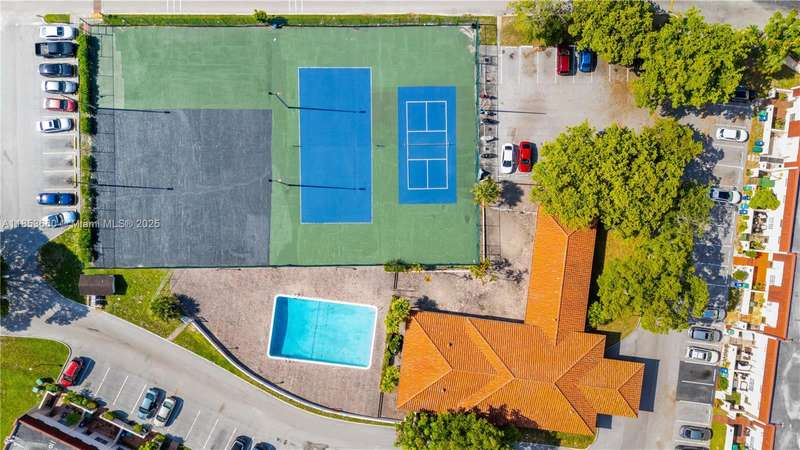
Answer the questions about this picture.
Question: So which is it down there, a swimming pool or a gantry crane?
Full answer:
There is a swimming pool in the scene.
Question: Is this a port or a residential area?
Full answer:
This looks like a residential area.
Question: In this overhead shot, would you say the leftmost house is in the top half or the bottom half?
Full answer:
You can find the leftmost house in the bottom half.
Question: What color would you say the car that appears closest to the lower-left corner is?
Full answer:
The color of the car that appears closest to the lower-left corner is red.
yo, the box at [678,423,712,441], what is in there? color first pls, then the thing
gray car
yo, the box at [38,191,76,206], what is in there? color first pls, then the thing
blue car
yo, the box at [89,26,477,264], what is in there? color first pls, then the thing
green sports court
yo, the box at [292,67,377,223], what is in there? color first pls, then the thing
blue tennis court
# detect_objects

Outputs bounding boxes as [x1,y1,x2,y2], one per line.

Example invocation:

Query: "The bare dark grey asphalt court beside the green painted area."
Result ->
[90,109,271,264]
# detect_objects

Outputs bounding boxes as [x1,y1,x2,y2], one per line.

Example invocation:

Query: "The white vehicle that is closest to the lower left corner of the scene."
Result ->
[153,395,177,427]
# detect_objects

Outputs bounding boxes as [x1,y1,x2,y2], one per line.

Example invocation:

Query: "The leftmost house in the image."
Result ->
[5,408,80,450]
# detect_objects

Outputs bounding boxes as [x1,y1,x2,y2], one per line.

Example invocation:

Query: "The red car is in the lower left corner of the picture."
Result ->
[59,355,85,387]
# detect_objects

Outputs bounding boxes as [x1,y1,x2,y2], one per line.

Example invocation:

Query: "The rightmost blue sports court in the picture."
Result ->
[398,86,456,204]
